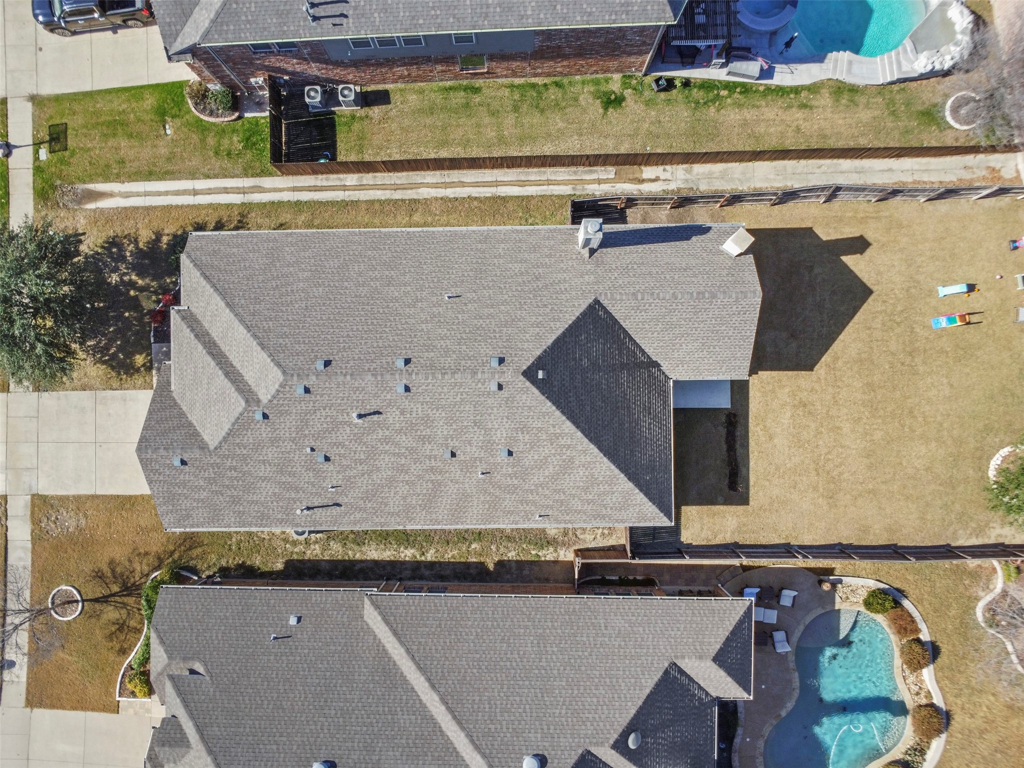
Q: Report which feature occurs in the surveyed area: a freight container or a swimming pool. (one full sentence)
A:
The image shows a swimming pool.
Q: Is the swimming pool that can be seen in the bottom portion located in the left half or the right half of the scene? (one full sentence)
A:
The swimming pool that can be seen in the bottom portion is on the right side of the image.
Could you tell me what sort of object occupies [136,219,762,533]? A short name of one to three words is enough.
house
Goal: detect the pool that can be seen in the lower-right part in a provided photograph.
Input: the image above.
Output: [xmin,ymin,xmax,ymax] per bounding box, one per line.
[759,601,916,768]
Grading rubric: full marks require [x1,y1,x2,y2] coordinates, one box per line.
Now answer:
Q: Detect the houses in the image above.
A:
[151,0,689,97]
[143,575,755,768]
[136,219,762,533]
